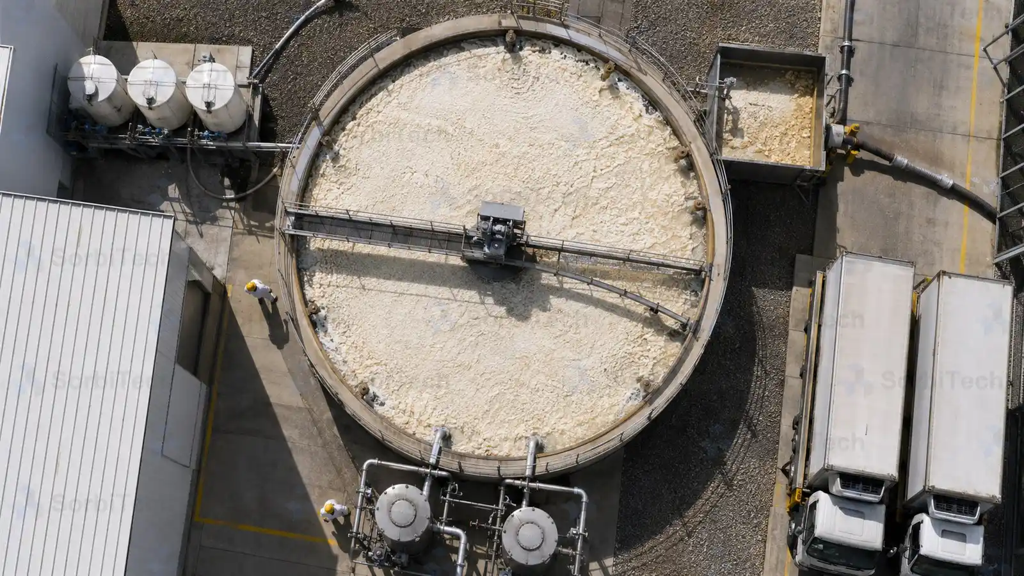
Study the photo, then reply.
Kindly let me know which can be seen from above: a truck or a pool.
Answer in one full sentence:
Of the two, only a truck appears.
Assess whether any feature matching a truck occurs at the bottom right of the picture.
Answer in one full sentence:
Yes, a truck appears at the bottom right of the picture.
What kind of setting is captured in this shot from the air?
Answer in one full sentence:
This image shows an industrial area.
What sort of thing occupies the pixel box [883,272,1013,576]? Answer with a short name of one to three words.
truck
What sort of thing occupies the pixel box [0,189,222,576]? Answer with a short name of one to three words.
shed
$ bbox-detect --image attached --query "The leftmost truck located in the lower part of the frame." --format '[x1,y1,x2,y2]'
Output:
[788,253,914,576]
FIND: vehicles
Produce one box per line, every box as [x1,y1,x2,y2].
[788,253,914,576]
[883,272,1013,576]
